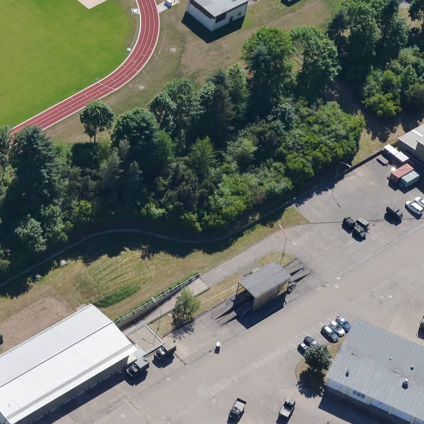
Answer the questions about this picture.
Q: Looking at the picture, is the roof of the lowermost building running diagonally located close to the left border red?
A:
No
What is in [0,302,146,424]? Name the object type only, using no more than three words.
building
